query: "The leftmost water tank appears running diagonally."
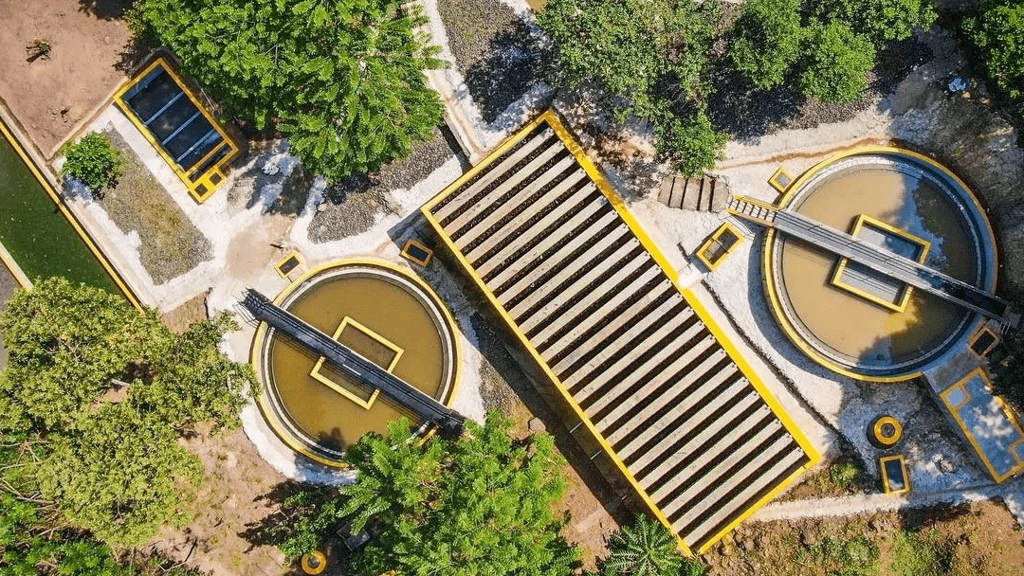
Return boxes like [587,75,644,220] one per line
[114,58,245,204]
